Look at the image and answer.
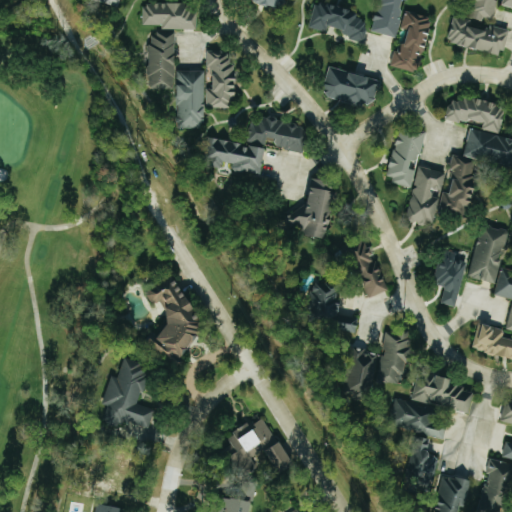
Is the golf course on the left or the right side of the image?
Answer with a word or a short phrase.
left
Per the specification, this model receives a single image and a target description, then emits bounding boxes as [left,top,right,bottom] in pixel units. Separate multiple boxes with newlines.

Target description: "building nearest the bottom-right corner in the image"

[484,458,510,509]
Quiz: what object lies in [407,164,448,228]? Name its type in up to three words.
house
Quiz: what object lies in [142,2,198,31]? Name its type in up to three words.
house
